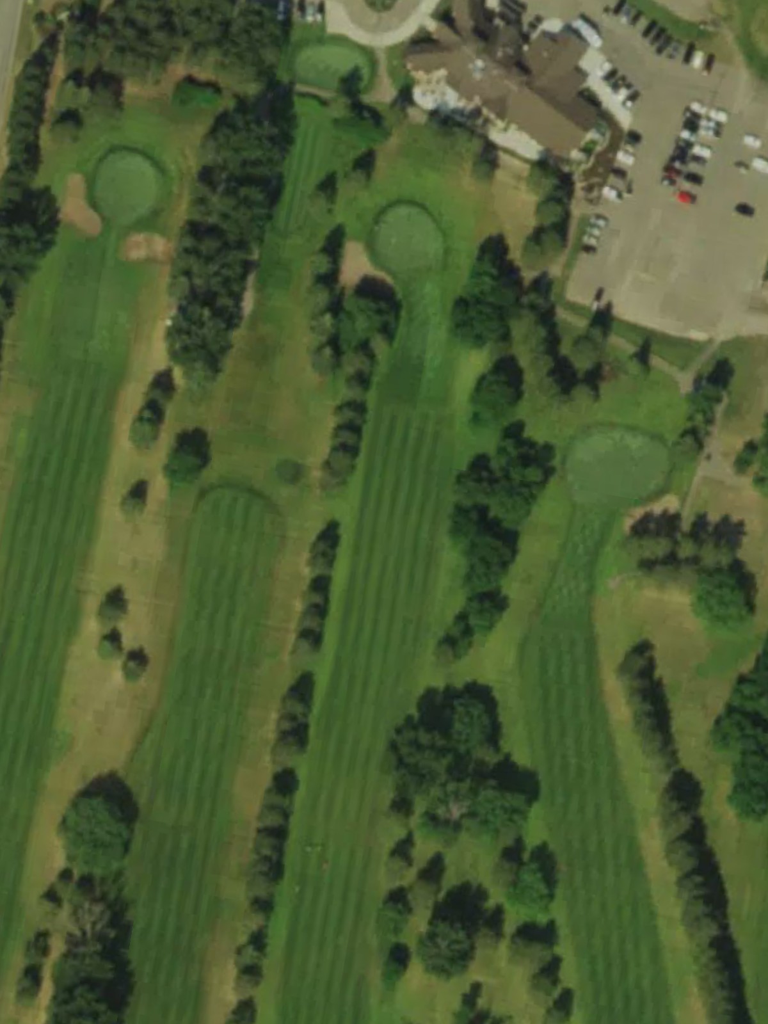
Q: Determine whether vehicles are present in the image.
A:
Yes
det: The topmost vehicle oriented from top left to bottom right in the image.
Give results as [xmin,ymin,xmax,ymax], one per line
[571,18,602,48]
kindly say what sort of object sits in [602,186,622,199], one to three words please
vehicle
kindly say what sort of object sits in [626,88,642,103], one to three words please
car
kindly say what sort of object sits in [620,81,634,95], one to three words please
car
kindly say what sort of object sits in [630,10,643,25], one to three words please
vehicle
